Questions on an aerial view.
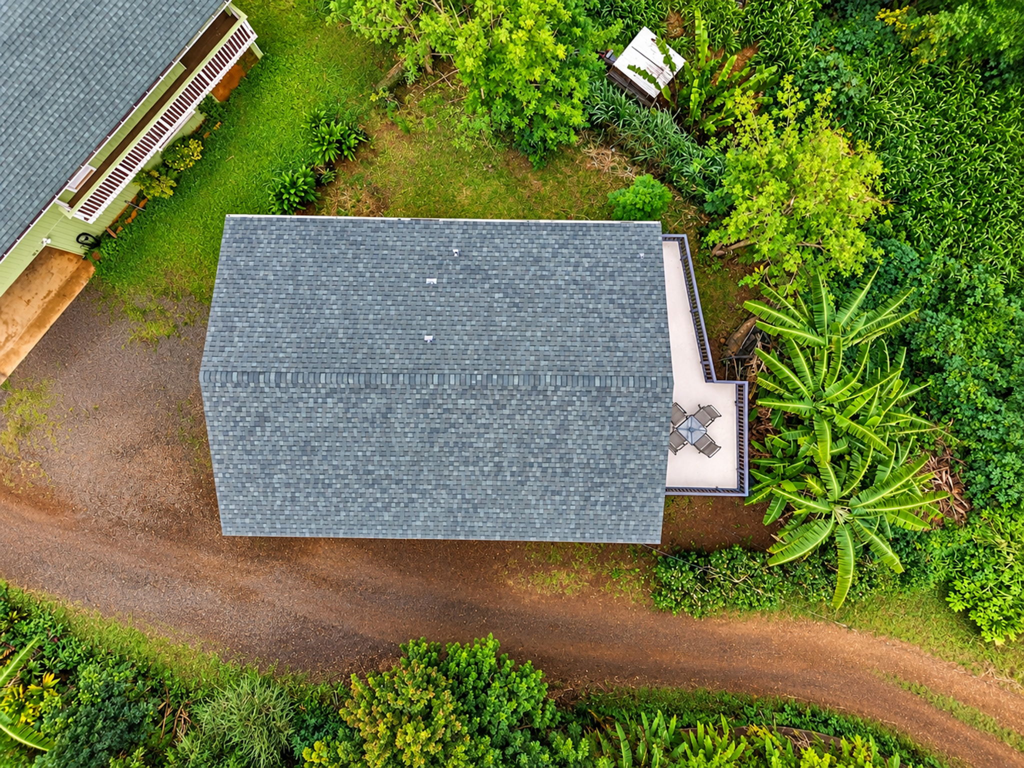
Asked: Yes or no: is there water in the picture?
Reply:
No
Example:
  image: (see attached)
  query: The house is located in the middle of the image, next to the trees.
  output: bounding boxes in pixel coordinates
[199,213,751,544]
